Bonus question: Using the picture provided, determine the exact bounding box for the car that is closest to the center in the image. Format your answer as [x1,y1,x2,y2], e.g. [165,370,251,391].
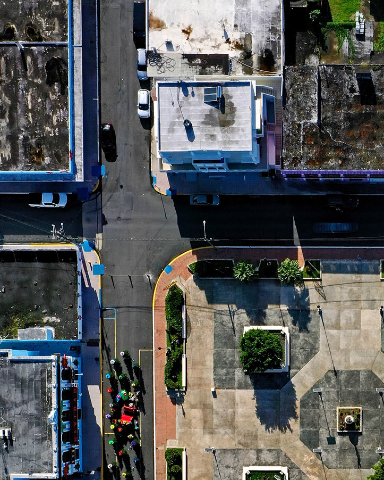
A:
[191,193,222,209]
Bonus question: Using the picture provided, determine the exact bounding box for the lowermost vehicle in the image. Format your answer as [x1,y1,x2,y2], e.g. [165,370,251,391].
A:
[320,218,353,235]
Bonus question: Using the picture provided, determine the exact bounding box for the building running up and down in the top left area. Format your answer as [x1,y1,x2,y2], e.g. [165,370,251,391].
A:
[0,0,84,183]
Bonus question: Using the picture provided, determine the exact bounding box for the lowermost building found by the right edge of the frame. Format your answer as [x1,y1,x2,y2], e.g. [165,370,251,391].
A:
[281,64,384,193]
